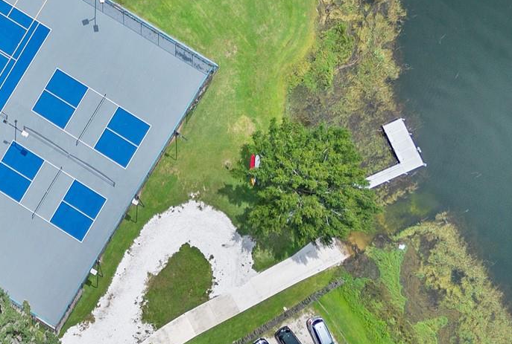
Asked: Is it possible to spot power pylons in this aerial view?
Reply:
No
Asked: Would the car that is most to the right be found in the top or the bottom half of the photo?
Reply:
bottom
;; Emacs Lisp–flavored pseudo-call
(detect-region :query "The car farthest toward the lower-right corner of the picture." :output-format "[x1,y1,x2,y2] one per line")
[307,316,330,344]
